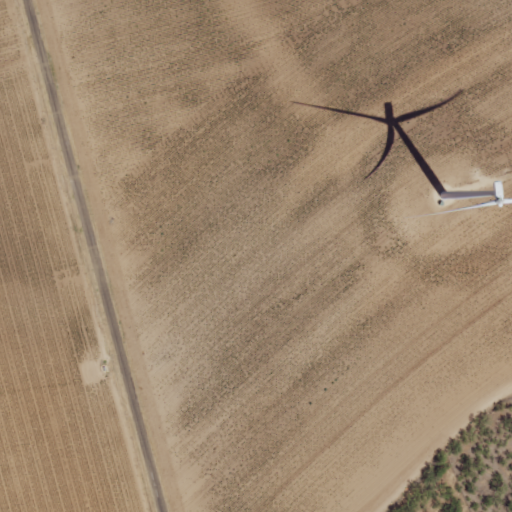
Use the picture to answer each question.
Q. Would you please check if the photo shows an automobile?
No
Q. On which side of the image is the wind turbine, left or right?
right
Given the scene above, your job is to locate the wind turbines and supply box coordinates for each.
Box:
[418,182,512,218]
